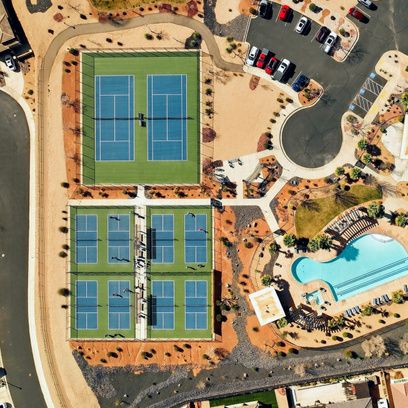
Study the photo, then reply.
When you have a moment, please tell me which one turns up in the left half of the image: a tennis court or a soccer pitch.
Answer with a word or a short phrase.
tennis court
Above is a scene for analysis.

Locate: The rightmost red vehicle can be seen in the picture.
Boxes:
[349,9,367,22]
